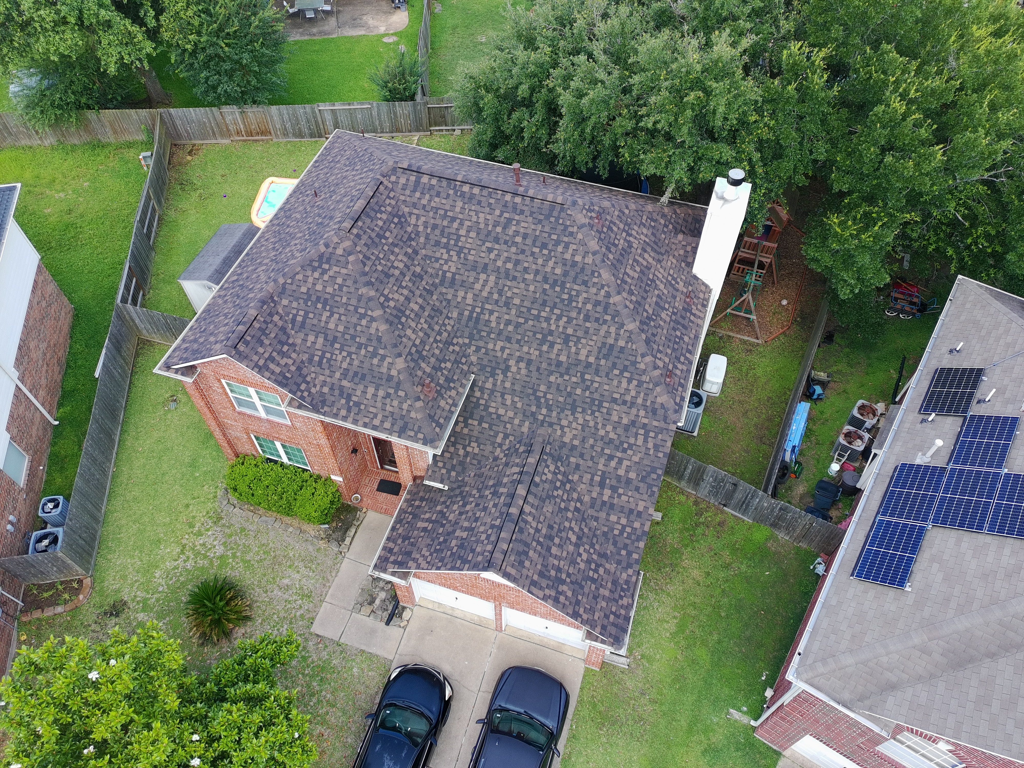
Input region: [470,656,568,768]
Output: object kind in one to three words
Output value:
car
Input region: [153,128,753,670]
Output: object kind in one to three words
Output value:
house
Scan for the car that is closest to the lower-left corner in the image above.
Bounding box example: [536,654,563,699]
[346,660,455,768]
